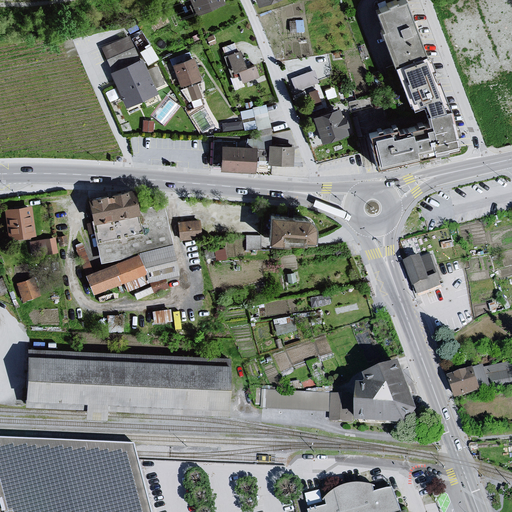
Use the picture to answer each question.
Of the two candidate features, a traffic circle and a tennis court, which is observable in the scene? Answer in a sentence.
Visible in the photo is a traffic circle.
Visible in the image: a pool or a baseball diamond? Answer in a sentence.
Looking from above, you can make out a pool.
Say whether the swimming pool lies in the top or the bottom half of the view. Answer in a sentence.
You can find the swimming pool in the top half.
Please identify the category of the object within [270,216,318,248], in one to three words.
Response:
house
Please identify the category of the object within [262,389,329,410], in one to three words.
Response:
shed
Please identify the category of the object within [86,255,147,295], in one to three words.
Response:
barn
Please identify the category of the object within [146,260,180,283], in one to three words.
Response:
building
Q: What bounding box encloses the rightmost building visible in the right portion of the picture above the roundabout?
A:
[368,0,460,172]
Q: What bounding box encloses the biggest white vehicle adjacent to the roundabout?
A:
[312,200,352,222]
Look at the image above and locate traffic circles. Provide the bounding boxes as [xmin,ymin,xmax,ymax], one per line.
[344,178,402,236]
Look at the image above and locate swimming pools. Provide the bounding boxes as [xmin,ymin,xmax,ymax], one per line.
[151,96,180,126]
